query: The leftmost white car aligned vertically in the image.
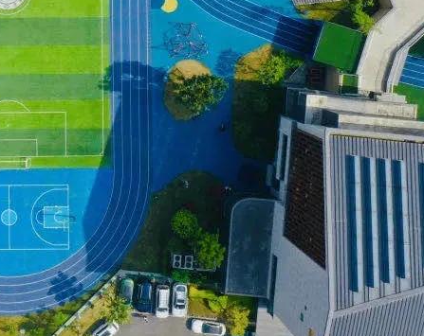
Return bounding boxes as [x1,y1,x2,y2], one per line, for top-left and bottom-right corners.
[155,283,170,317]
